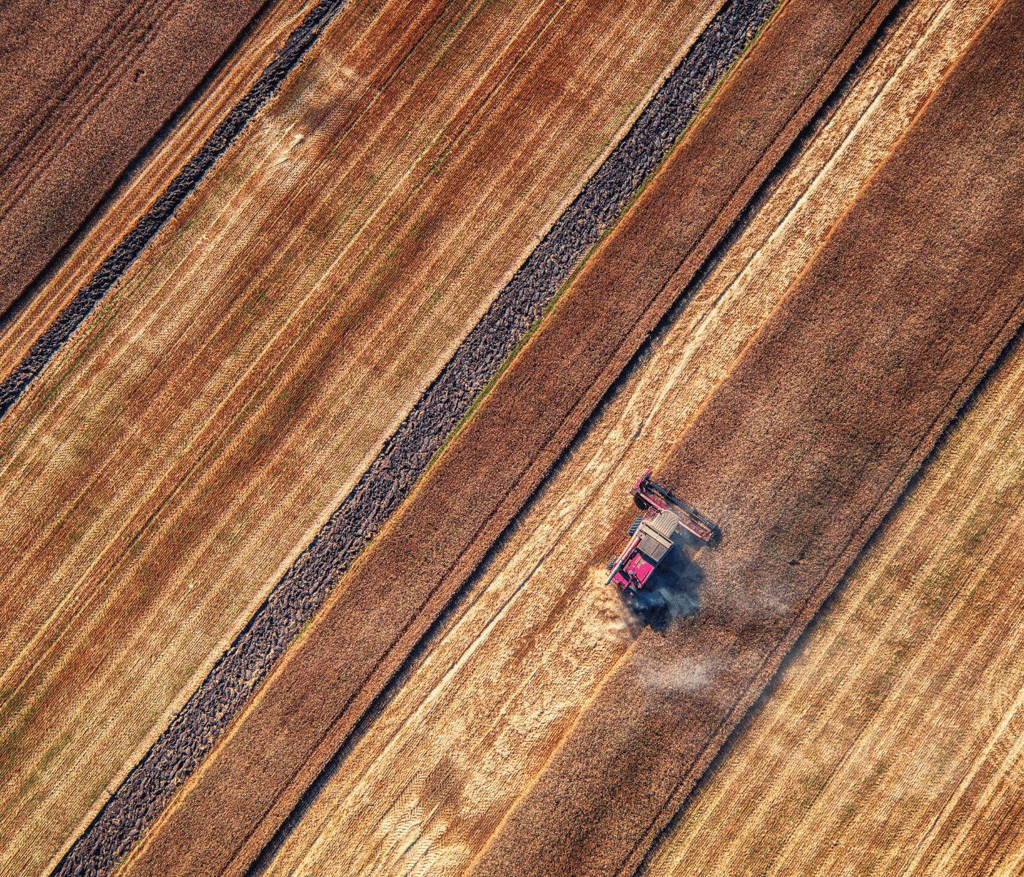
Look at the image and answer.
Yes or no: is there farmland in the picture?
Yes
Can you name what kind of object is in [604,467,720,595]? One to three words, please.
work vehicle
